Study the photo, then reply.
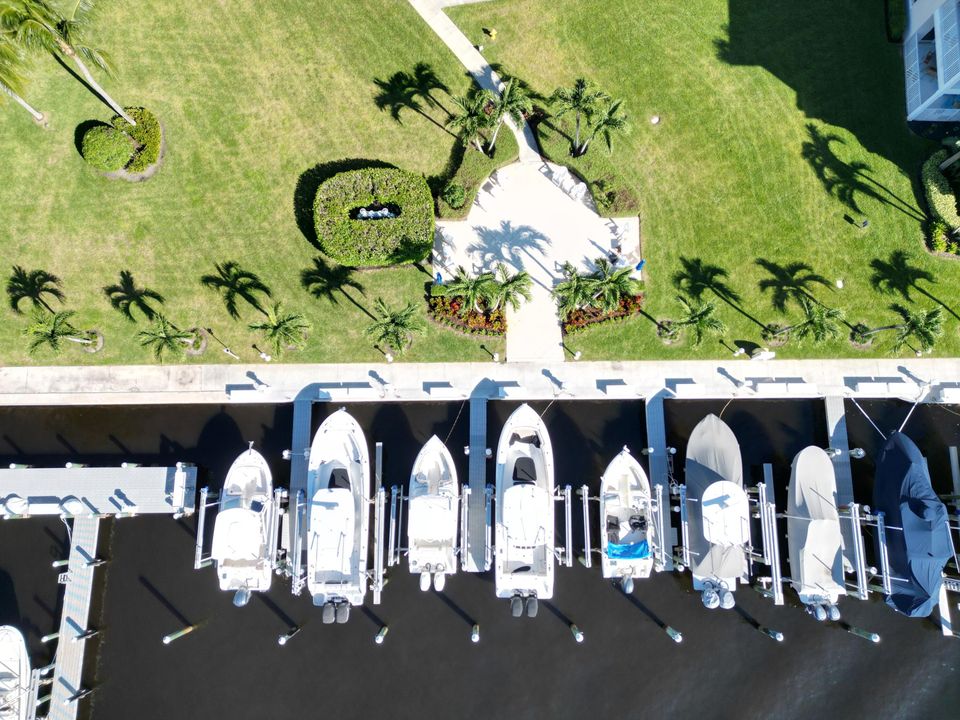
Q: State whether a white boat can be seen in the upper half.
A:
No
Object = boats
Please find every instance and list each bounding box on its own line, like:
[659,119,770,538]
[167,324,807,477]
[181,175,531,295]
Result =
[408,435,460,593]
[867,432,960,622]
[684,413,754,608]
[0,626,35,720]
[308,402,369,626]
[218,441,277,607]
[781,445,848,623]
[599,442,653,597]
[494,404,554,623]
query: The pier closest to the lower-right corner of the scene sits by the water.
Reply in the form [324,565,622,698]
[824,397,861,594]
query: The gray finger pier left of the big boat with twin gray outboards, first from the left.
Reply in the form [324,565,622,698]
[287,400,312,578]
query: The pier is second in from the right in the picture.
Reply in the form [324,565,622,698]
[645,398,680,572]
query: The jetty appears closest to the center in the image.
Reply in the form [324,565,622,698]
[468,398,488,573]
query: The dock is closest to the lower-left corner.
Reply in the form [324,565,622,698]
[0,467,198,516]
